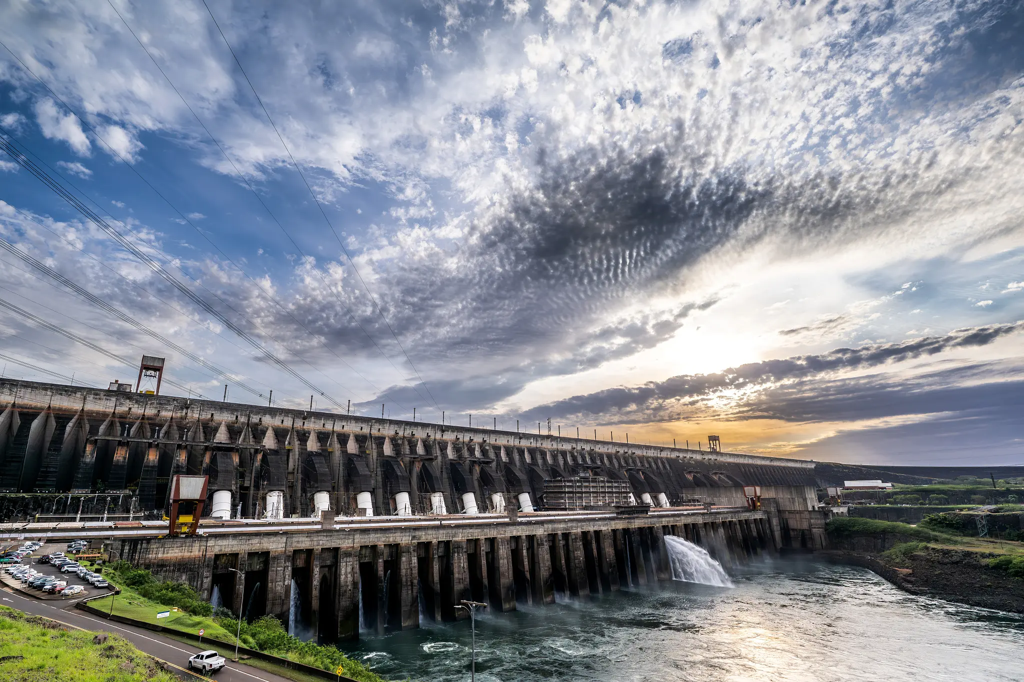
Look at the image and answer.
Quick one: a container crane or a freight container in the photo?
container crane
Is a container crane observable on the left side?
Yes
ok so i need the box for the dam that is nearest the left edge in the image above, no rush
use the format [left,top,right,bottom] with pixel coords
[0,378,835,518]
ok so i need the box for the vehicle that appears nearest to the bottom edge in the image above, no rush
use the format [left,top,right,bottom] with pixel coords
[191,652,225,675]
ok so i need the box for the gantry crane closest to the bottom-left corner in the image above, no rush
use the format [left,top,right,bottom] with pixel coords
[157,474,212,533]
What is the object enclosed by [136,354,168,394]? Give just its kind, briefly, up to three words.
container crane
